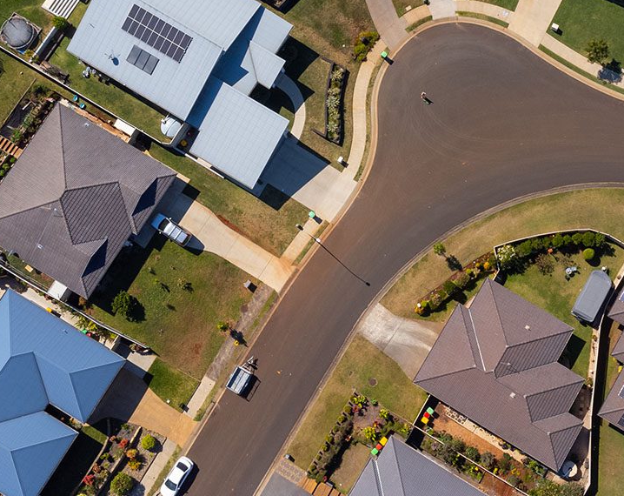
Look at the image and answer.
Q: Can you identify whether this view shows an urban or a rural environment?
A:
urban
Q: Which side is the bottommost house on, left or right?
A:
right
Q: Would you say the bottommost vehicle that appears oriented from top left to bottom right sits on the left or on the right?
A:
left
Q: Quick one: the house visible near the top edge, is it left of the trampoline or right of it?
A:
to the right of it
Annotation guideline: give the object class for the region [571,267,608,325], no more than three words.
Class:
camper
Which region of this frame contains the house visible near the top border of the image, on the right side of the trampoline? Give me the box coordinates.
[66,0,294,189]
